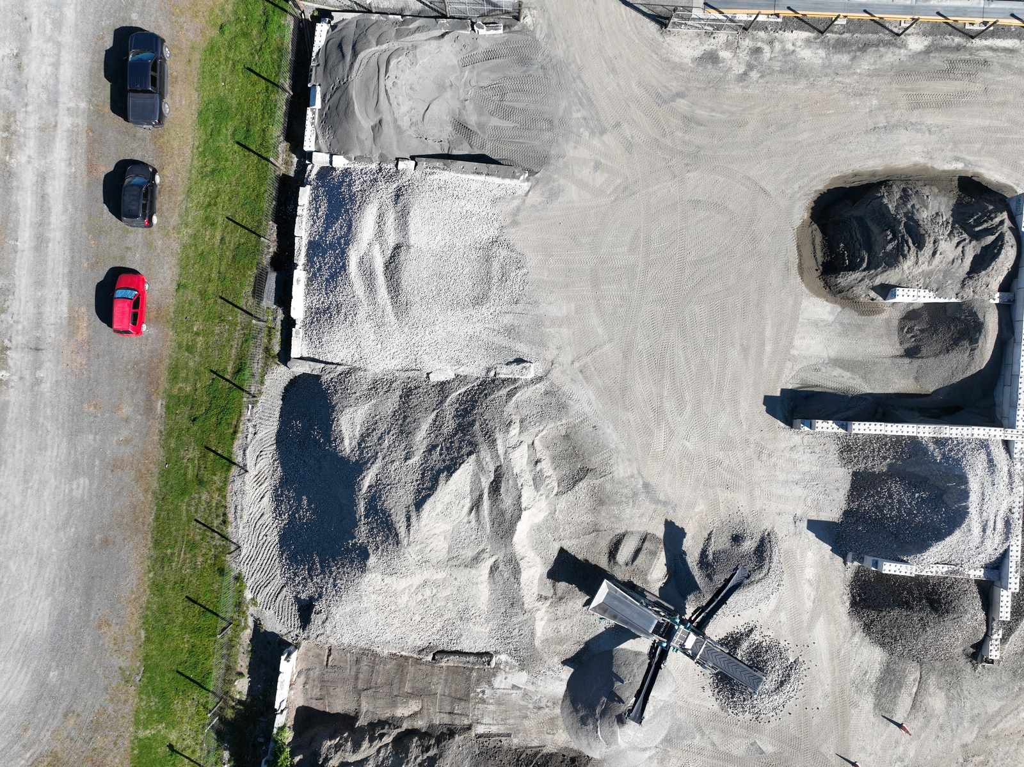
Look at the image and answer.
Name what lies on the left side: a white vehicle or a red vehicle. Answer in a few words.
red vehicle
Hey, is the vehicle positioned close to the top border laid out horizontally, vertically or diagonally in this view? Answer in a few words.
vertically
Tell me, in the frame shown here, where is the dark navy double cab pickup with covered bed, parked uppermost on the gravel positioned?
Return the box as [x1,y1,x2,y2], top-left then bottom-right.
[126,33,170,131]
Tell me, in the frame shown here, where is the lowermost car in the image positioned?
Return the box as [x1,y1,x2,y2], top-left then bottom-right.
[108,273,149,339]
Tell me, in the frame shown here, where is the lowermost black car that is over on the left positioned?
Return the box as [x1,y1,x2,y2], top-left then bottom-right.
[118,165,160,231]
